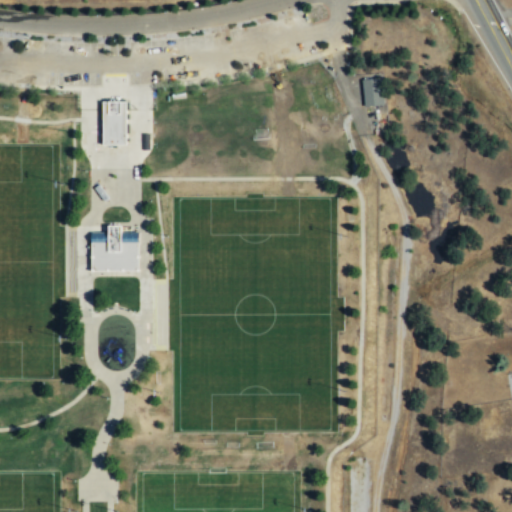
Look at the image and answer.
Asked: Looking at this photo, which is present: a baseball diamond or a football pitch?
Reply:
football pitch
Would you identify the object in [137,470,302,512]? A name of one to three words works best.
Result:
soccer field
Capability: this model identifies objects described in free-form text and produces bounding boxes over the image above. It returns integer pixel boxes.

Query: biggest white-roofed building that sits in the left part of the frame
[90,226,142,272]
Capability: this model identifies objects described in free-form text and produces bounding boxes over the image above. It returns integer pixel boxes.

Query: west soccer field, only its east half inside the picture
[0,144,60,382]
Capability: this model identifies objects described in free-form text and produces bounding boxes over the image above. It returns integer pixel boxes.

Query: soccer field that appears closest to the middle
[174,194,345,436]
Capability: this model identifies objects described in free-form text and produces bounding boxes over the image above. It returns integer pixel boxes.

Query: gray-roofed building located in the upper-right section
[364,78,386,106]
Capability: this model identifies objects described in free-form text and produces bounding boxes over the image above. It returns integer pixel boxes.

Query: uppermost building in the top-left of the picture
[102,99,128,146]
